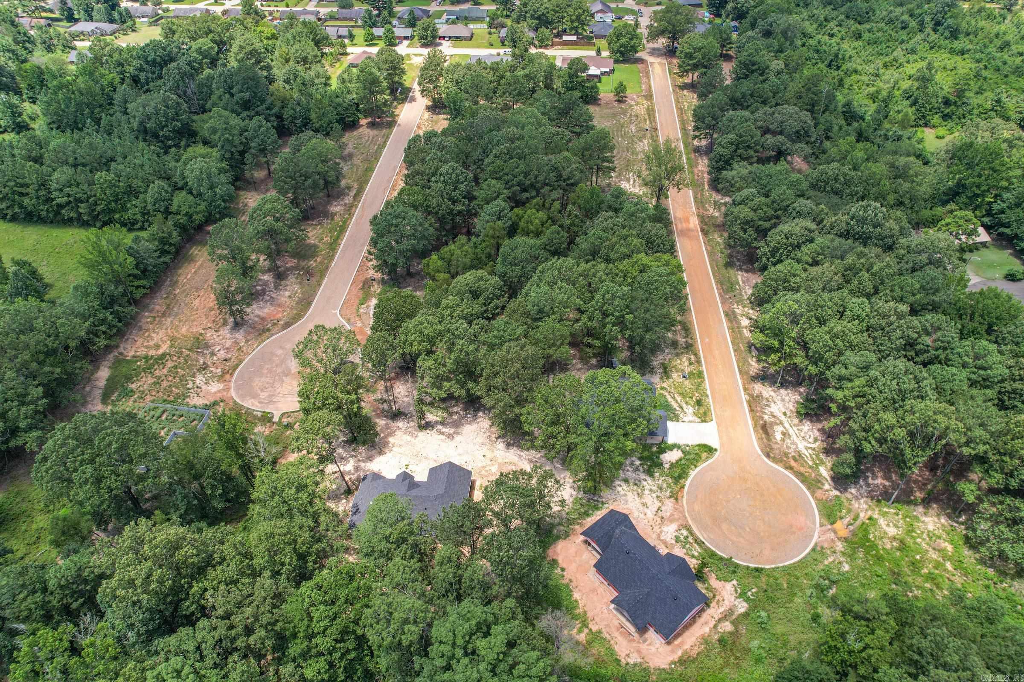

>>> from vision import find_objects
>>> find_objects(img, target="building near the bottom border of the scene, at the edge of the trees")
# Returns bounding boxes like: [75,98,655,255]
[579,509,711,649]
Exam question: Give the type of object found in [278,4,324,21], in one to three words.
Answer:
house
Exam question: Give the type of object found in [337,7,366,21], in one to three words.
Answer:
house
